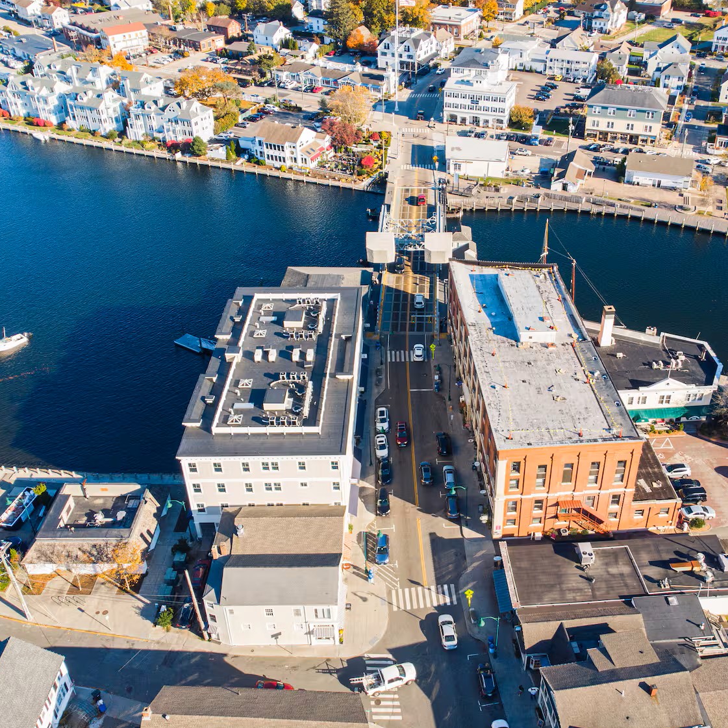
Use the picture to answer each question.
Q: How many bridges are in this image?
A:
1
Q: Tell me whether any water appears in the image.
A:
Yes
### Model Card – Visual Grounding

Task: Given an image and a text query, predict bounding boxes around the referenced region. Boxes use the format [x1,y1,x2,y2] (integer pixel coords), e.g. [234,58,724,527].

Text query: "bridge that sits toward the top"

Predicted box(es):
[366,189,458,338]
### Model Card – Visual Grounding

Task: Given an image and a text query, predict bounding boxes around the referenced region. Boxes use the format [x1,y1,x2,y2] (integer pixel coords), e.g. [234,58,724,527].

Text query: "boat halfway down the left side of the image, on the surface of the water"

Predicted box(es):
[0,326,37,352]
